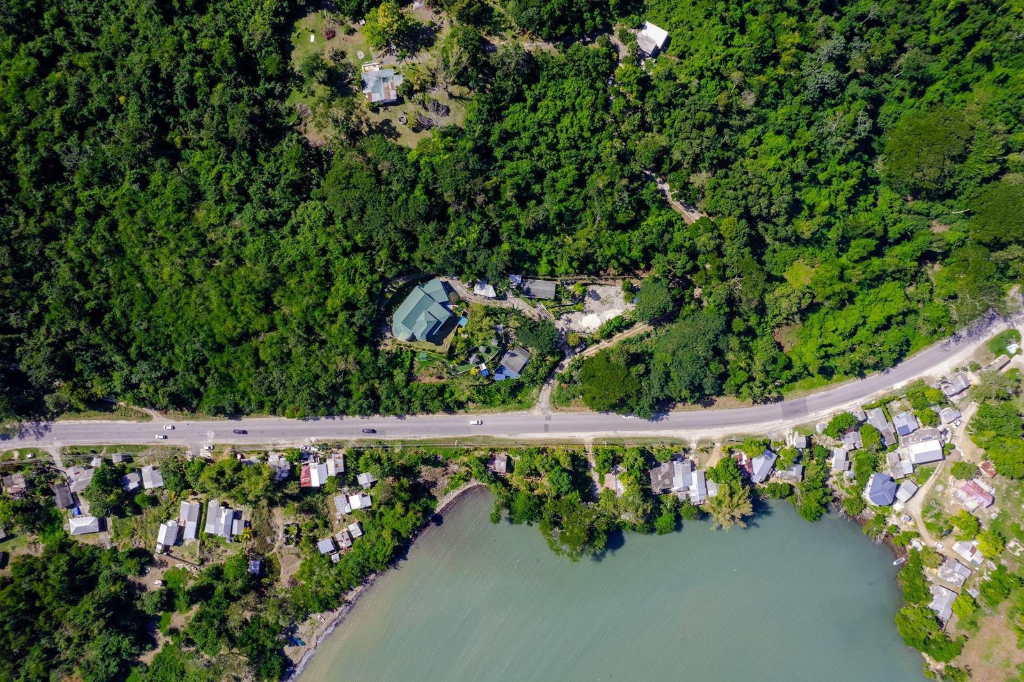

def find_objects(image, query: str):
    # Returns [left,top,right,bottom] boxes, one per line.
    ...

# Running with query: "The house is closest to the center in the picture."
[500,346,529,374]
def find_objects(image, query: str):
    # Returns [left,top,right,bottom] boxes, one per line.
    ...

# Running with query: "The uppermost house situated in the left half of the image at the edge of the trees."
[362,69,403,104]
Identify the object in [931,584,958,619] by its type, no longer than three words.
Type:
house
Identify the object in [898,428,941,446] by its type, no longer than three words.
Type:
house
